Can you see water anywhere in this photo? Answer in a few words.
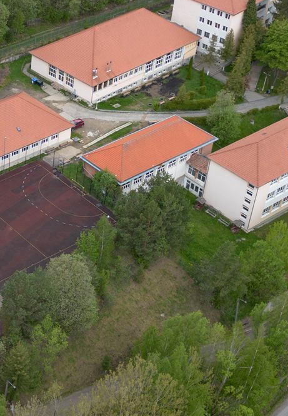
No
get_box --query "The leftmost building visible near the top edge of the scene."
[27,7,204,103]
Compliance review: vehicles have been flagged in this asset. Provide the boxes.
[71,117,90,130]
